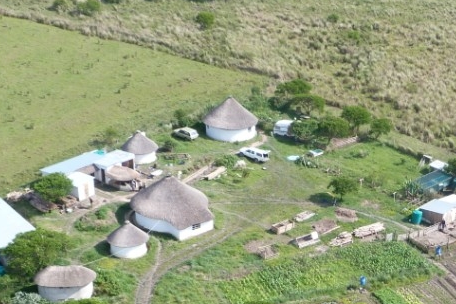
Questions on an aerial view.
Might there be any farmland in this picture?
Yes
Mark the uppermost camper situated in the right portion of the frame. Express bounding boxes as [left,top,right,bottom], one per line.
[271,120,297,139]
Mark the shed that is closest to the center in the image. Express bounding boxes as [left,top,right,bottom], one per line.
[202,95,259,143]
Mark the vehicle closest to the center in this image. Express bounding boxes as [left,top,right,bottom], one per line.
[238,144,271,163]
